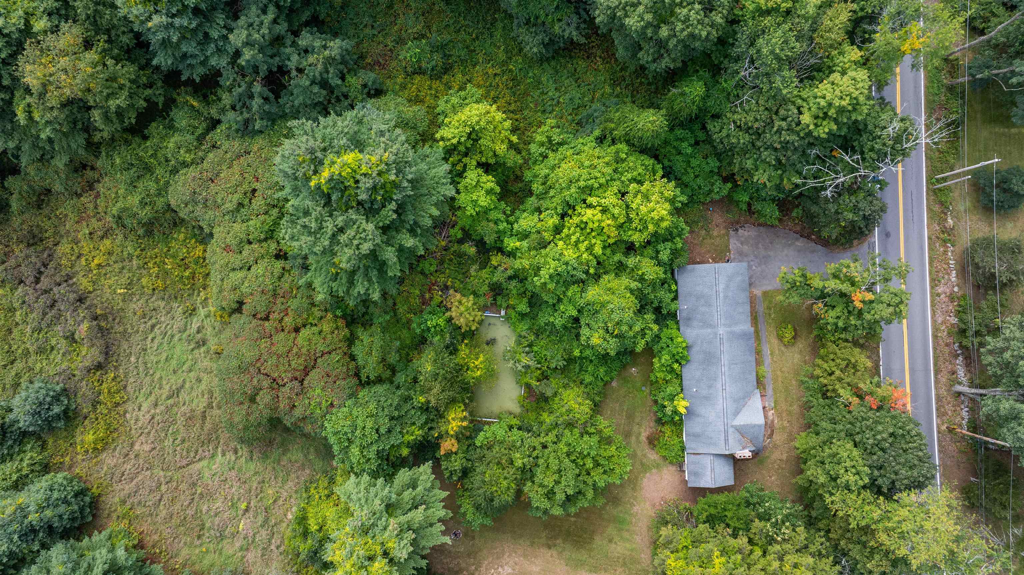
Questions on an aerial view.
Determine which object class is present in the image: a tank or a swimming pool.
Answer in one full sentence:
The one in the frame is a swimming pool.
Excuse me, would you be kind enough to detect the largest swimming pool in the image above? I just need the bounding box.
[469,313,526,423]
